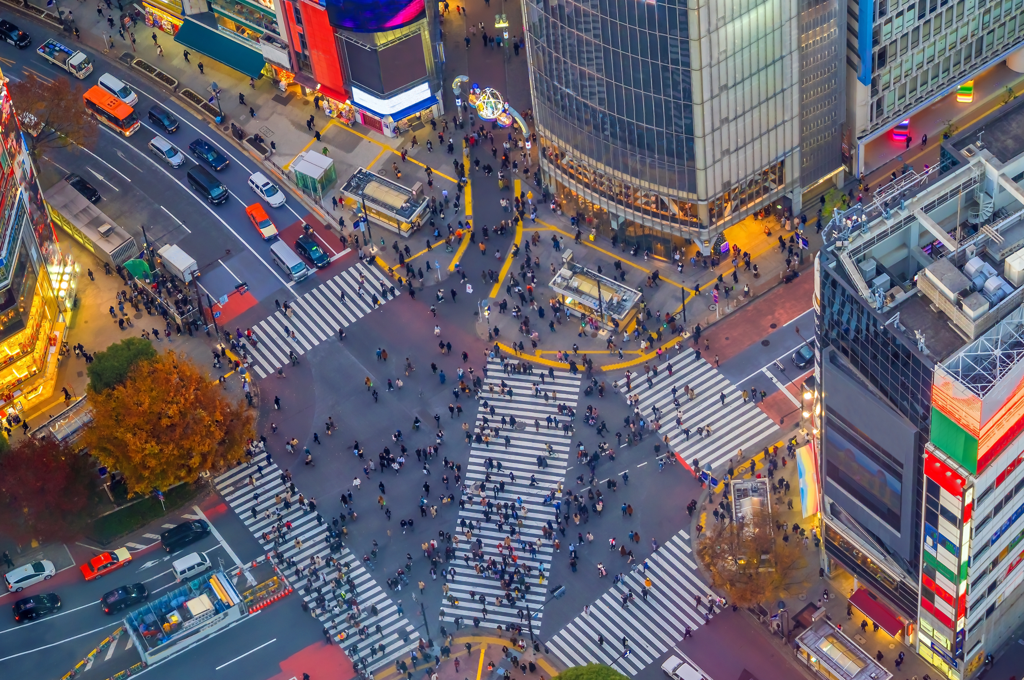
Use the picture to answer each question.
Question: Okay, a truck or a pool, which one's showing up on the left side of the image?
truck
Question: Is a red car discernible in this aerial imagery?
Yes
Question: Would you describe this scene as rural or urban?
urban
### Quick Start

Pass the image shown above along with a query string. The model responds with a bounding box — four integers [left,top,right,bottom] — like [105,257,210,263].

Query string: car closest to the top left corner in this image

[0,15,31,47]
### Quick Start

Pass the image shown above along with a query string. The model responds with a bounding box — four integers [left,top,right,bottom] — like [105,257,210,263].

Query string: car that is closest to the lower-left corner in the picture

[6,592,60,623]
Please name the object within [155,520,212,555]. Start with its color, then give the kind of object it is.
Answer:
black van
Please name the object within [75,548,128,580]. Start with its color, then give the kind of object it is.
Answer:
red car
